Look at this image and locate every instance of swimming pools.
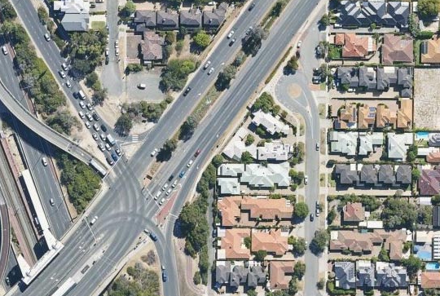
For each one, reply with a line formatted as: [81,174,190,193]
[417,250,432,261]
[416,131,430,140]
[425,261,440,272]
